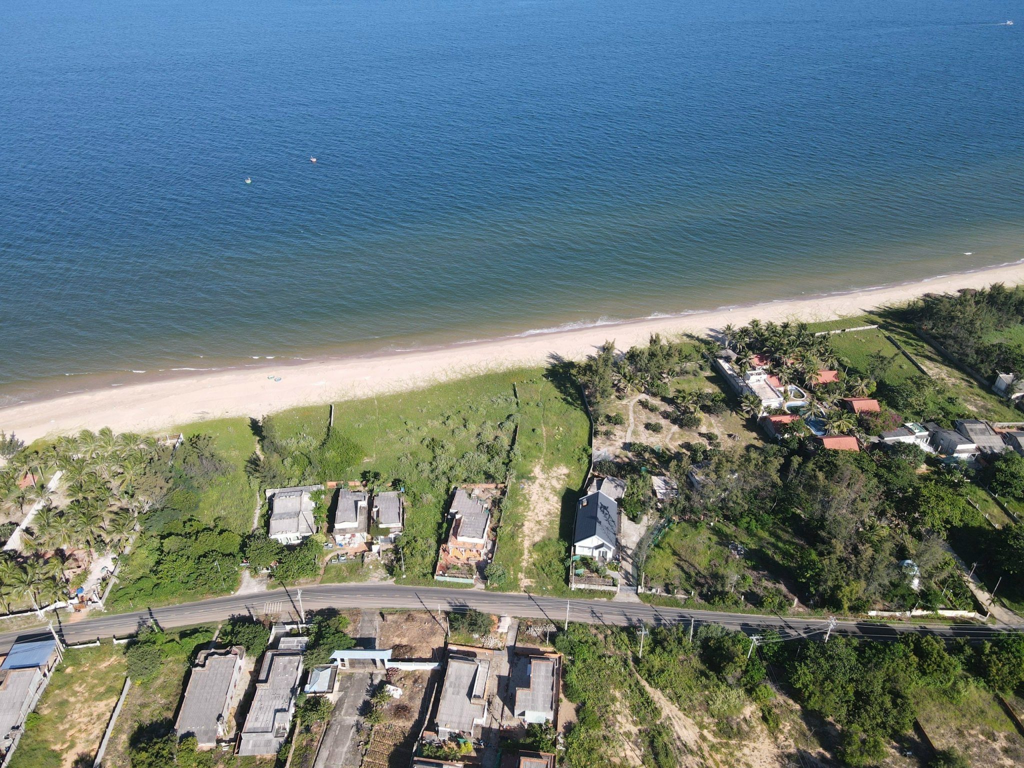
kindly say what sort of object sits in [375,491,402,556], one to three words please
house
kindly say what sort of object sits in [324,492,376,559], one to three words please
house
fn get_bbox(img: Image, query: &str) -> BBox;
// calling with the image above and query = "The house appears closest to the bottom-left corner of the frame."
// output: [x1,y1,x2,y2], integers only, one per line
[0,667,43,759]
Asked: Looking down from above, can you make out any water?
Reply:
Yes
